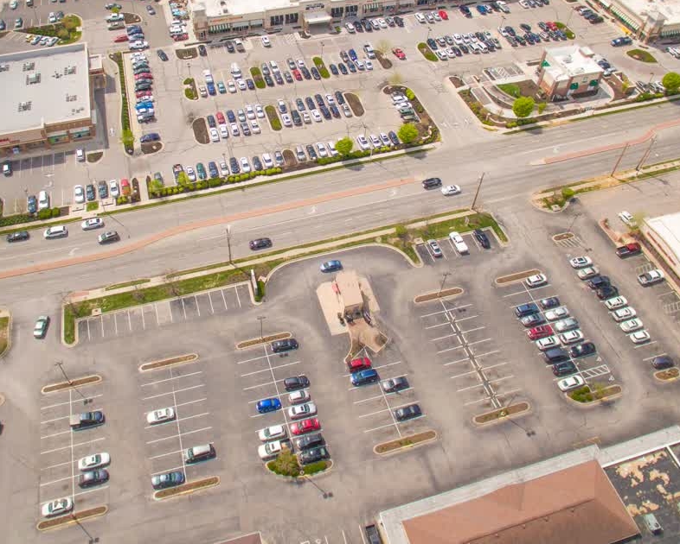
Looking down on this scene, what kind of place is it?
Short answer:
parking lot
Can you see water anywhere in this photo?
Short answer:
No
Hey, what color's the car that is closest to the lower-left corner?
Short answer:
white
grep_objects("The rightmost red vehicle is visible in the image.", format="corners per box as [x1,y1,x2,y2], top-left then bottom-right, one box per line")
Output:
[614,243,644,257]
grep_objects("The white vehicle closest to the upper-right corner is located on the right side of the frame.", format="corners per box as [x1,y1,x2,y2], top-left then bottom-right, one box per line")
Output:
[666,47,680,59]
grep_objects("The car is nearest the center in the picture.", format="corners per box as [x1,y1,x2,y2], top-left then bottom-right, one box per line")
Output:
[319,259,343,273]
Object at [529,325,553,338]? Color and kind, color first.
red vehicle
